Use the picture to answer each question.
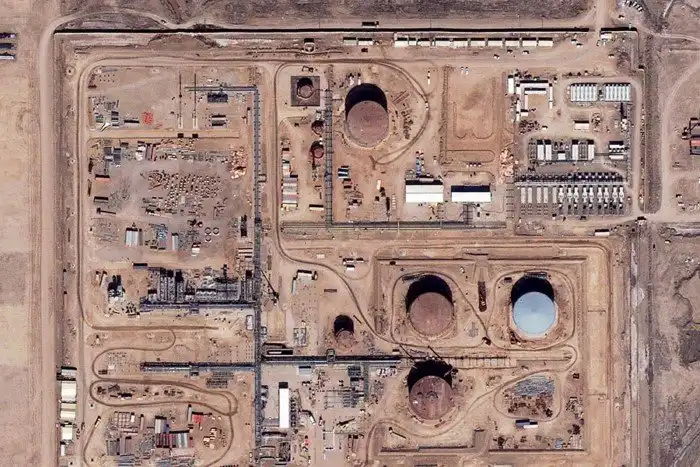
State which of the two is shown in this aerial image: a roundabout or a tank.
tank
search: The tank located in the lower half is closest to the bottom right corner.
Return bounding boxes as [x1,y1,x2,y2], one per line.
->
[511,291,558,338]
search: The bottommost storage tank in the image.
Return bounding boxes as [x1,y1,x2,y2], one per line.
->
[407,375,455,424]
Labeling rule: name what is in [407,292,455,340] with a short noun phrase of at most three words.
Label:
storage tank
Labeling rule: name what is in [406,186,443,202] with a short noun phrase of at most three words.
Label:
building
